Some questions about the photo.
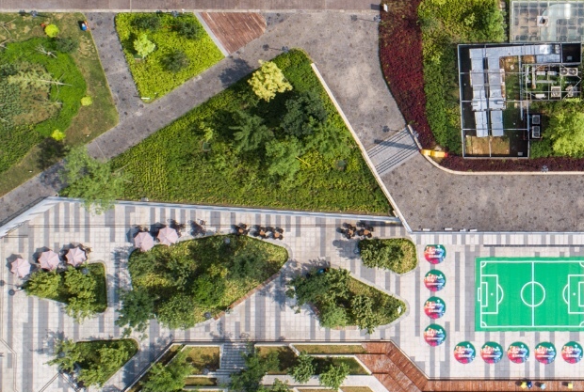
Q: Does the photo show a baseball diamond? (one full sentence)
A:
No, no baseball diamond can be seen from above.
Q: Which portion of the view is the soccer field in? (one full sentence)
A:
The soccer field is in the bottom right part of the image.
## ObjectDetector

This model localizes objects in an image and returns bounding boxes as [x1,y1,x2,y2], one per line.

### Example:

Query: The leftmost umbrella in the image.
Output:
[10,257,36,278]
